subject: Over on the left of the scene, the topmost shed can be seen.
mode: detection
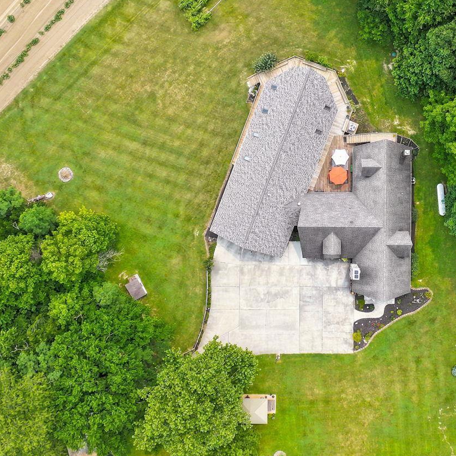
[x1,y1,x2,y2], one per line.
[123,274,148,300]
